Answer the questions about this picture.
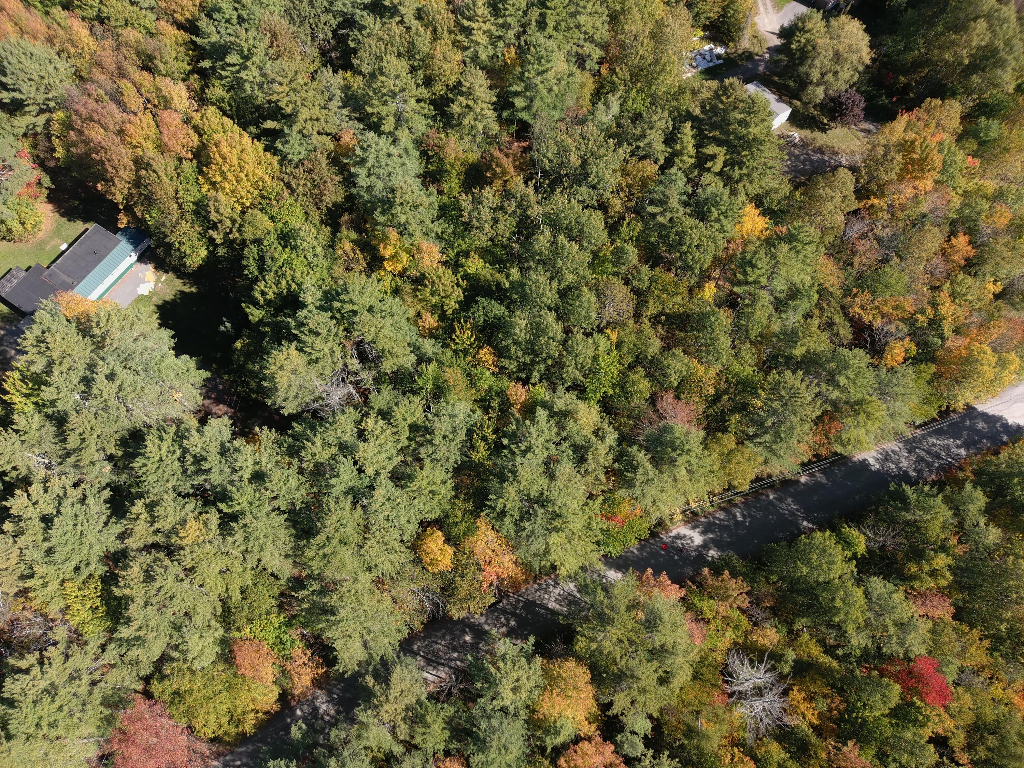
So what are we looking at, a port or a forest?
forest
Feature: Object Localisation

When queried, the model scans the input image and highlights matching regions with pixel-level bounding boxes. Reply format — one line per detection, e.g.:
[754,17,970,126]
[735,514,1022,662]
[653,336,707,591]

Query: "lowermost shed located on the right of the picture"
[753,81,792,132]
